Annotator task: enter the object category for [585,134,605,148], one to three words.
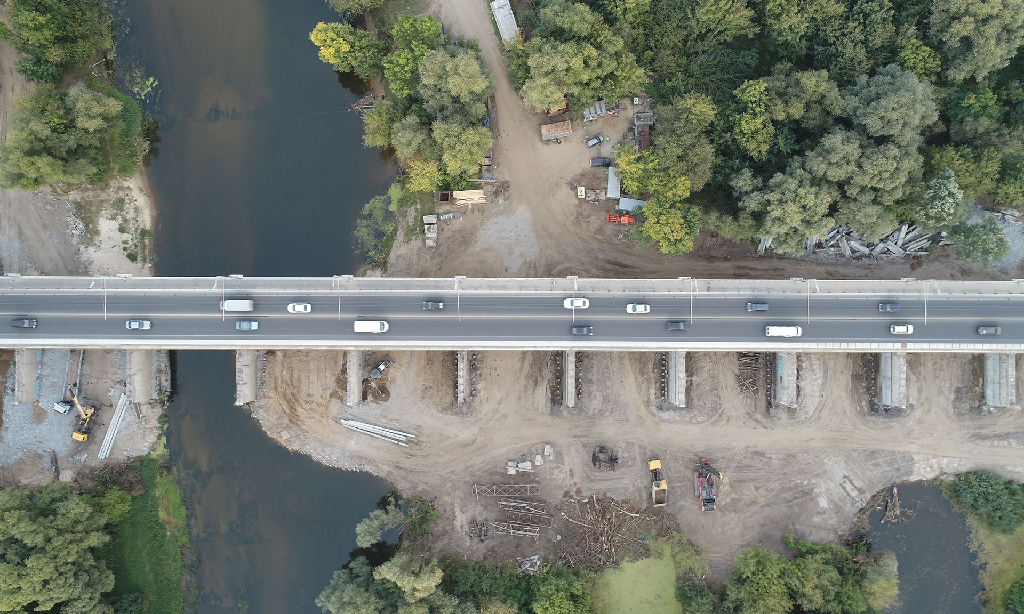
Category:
car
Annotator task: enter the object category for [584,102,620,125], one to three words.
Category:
shed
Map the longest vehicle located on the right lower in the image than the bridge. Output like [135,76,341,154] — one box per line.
[647,458,667,506]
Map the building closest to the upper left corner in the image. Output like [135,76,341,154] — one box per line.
[490,0,519,47]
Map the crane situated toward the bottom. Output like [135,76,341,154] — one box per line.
[67,385,113,440]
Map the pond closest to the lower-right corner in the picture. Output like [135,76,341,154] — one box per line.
[863,484,1024,614]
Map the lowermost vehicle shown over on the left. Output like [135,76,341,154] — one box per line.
[52,397,79,415]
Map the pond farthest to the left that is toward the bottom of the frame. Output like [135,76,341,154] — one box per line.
[593,534,683,614]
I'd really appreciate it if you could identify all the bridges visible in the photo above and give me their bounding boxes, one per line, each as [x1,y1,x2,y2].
[0,274,1024,408]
